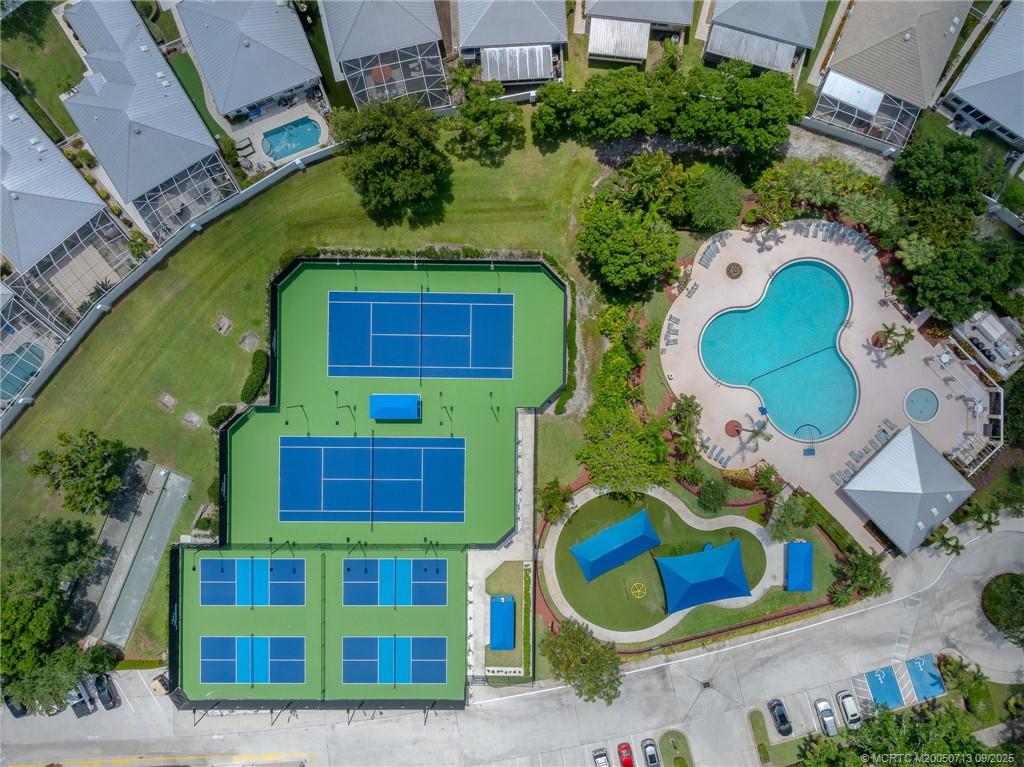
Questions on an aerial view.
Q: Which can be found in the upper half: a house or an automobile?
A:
house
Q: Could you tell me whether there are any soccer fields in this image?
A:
No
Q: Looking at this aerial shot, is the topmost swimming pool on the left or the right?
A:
left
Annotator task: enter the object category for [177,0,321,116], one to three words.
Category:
house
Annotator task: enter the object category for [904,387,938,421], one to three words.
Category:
swimming pool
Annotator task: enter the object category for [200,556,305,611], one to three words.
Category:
sports court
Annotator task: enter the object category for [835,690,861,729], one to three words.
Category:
car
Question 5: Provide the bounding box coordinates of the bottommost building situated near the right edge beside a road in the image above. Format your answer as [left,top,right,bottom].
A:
[837,424,976,555]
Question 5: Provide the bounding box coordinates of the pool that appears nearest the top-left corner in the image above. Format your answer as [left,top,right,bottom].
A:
[260,114,322,162]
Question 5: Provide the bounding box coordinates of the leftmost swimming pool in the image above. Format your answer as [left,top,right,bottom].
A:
[0,341,45,398]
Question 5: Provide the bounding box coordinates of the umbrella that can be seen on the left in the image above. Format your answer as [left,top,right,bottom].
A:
[371,64,392,85]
